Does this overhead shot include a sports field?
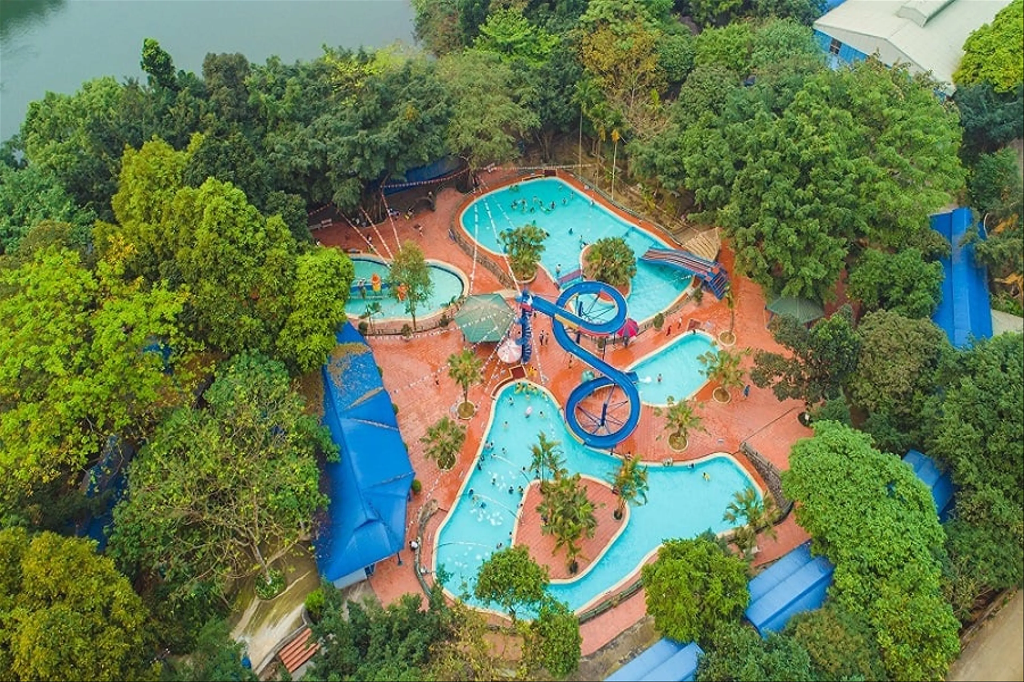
No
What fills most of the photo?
trees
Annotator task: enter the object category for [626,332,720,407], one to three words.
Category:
swimming pool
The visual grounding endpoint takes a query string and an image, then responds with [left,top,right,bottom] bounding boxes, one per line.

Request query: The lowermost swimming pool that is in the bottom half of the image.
[432,379,763,621]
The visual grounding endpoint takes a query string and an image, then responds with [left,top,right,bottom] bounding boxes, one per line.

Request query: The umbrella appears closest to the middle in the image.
[498,342,522,371]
